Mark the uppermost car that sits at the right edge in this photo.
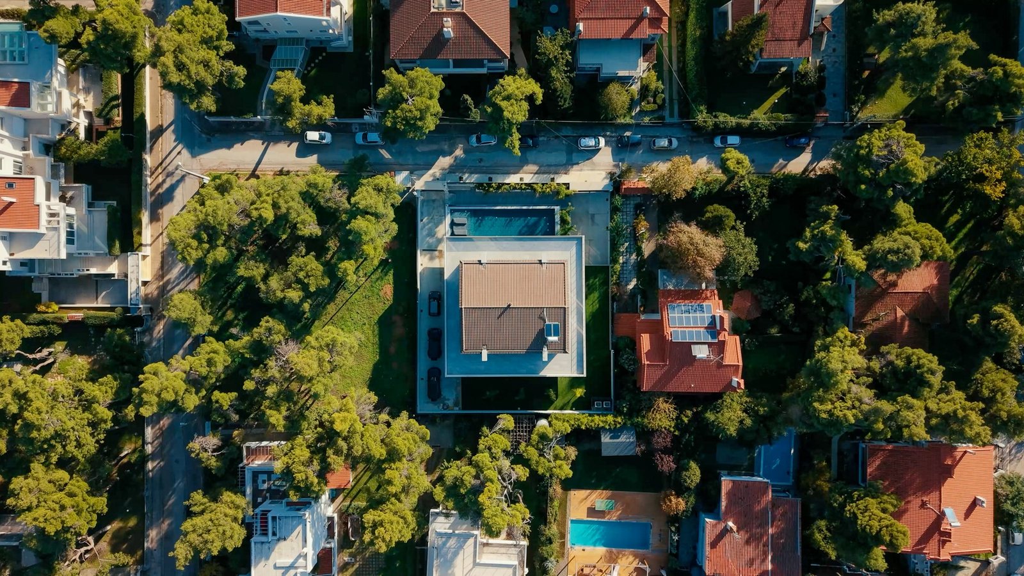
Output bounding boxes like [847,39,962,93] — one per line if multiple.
[1006,520,1023,548]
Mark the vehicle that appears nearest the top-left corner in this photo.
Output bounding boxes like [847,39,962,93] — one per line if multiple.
[305,130,332,145]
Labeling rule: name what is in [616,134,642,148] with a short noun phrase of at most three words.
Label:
car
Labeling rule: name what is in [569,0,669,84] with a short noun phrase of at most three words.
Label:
house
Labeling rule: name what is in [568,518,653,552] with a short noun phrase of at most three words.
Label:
swimming pool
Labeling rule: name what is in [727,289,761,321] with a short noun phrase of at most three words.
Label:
gazebo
